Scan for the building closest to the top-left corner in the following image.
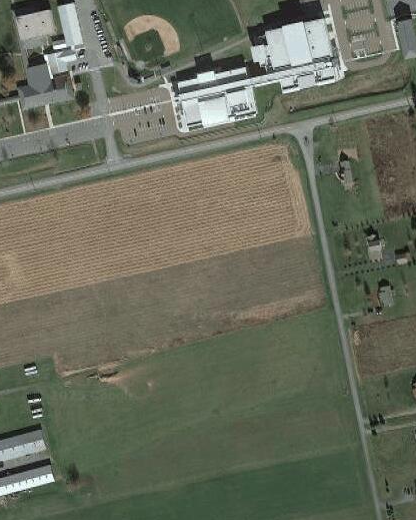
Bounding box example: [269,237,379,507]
[15,9,57,40]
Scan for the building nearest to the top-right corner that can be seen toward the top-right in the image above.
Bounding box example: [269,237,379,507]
[397,19,416,60]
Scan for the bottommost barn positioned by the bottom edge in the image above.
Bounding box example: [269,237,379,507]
[0,464,55,497]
